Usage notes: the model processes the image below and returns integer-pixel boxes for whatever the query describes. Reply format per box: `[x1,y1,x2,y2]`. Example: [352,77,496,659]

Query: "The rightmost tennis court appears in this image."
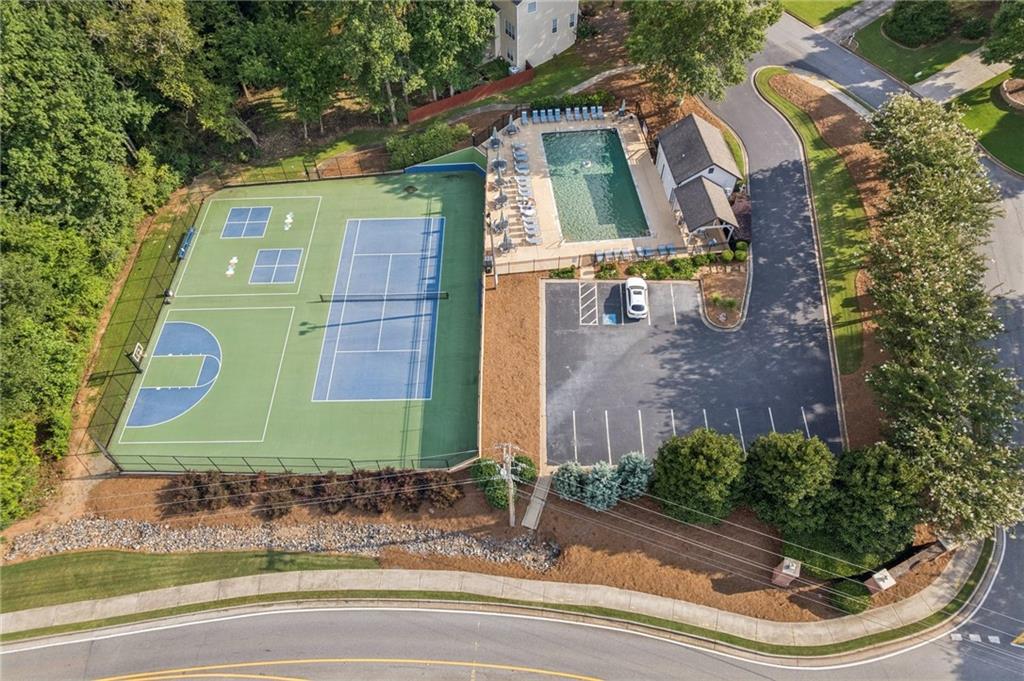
[311,217,446,401]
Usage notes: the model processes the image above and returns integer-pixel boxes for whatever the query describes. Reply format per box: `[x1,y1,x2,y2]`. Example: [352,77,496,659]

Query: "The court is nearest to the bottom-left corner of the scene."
[120,307,294,442]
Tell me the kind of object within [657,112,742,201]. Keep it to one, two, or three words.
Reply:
building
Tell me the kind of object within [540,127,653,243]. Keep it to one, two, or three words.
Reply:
swimming pool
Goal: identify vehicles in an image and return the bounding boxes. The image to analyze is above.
[626,279,650,320]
